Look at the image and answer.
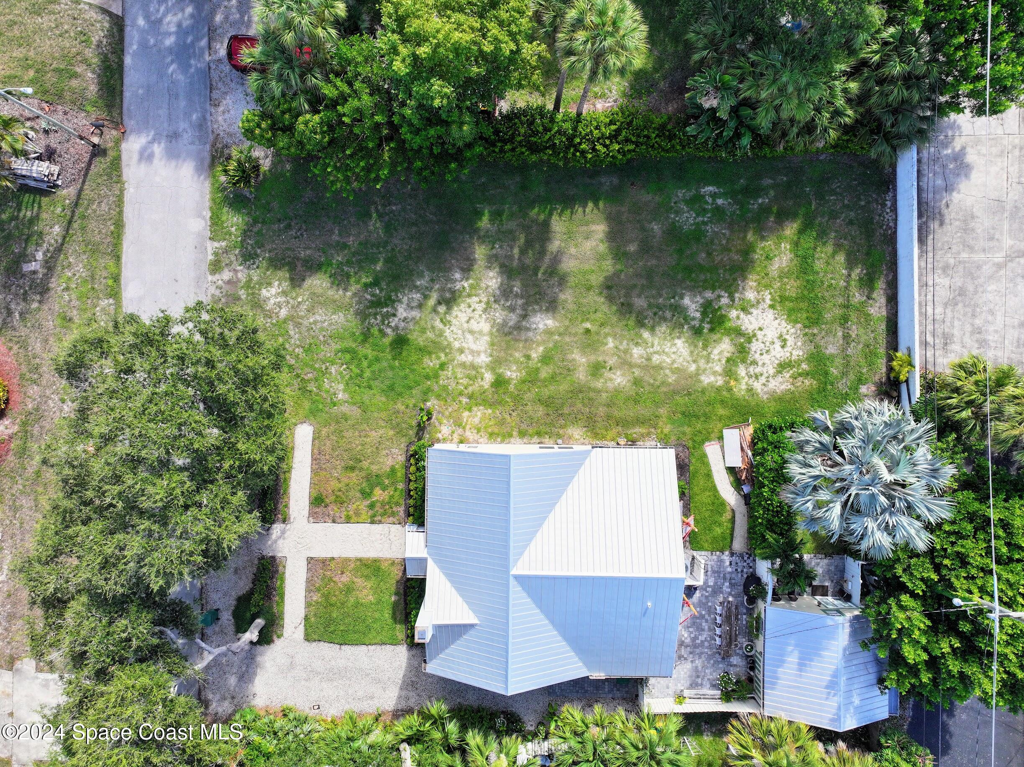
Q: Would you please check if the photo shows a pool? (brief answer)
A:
No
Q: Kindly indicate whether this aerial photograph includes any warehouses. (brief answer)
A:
No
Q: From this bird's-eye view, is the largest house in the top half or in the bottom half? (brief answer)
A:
bottom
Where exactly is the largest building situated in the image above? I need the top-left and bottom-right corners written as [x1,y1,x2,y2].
[415,440,686,695]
